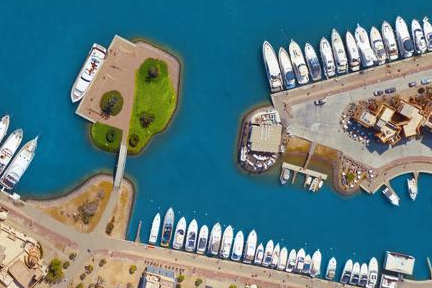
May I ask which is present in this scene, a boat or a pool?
boat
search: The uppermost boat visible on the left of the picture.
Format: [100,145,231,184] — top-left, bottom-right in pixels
[72,43,107,102]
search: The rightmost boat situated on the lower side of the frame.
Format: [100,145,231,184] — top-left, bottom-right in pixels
[405,176,417,199]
